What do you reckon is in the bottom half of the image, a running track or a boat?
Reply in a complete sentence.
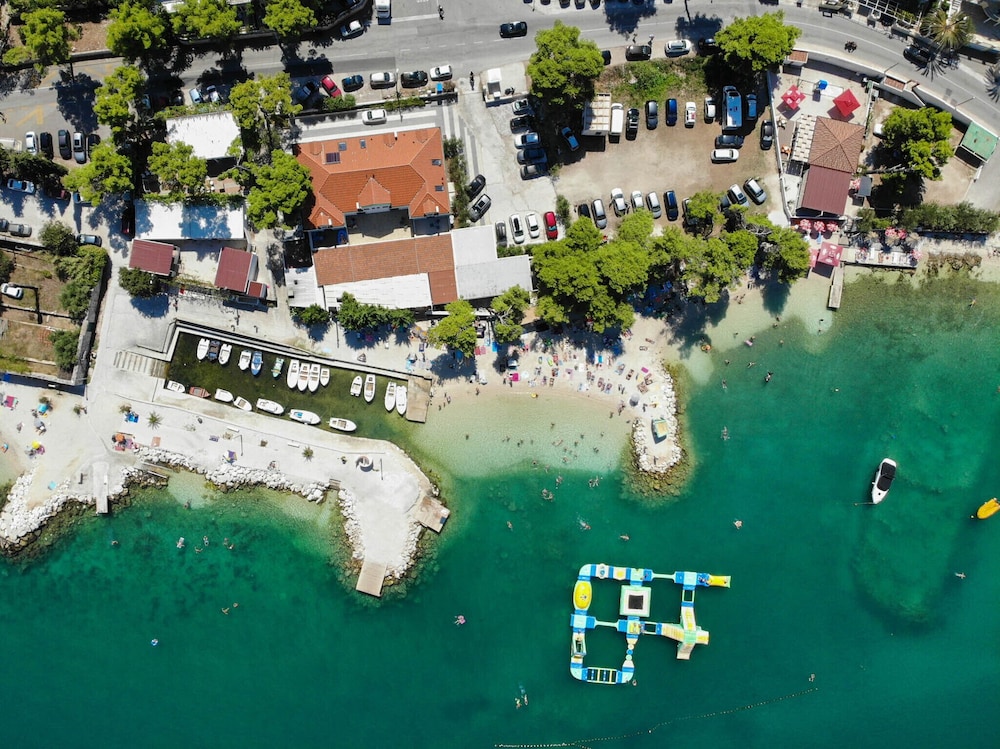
The one visible in the bottom half of the image is a boat.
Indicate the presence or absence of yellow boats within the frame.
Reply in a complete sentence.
Yes, a yellow boat can be made out from above.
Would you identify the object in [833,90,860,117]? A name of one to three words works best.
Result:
umbrella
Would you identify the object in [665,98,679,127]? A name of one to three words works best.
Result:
vehicle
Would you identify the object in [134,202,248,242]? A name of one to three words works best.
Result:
building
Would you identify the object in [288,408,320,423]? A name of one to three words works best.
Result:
boat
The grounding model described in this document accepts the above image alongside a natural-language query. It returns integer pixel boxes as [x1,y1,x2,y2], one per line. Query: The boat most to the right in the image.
[977,493,1000,519]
